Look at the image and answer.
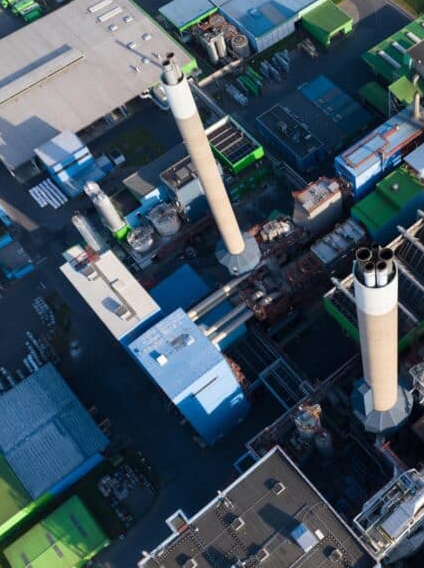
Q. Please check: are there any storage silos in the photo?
Yes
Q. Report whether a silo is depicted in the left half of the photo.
Yes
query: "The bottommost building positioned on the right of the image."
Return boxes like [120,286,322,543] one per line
[141,448,378,568]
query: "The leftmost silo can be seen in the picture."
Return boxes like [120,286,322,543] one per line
[67,213,104,254]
